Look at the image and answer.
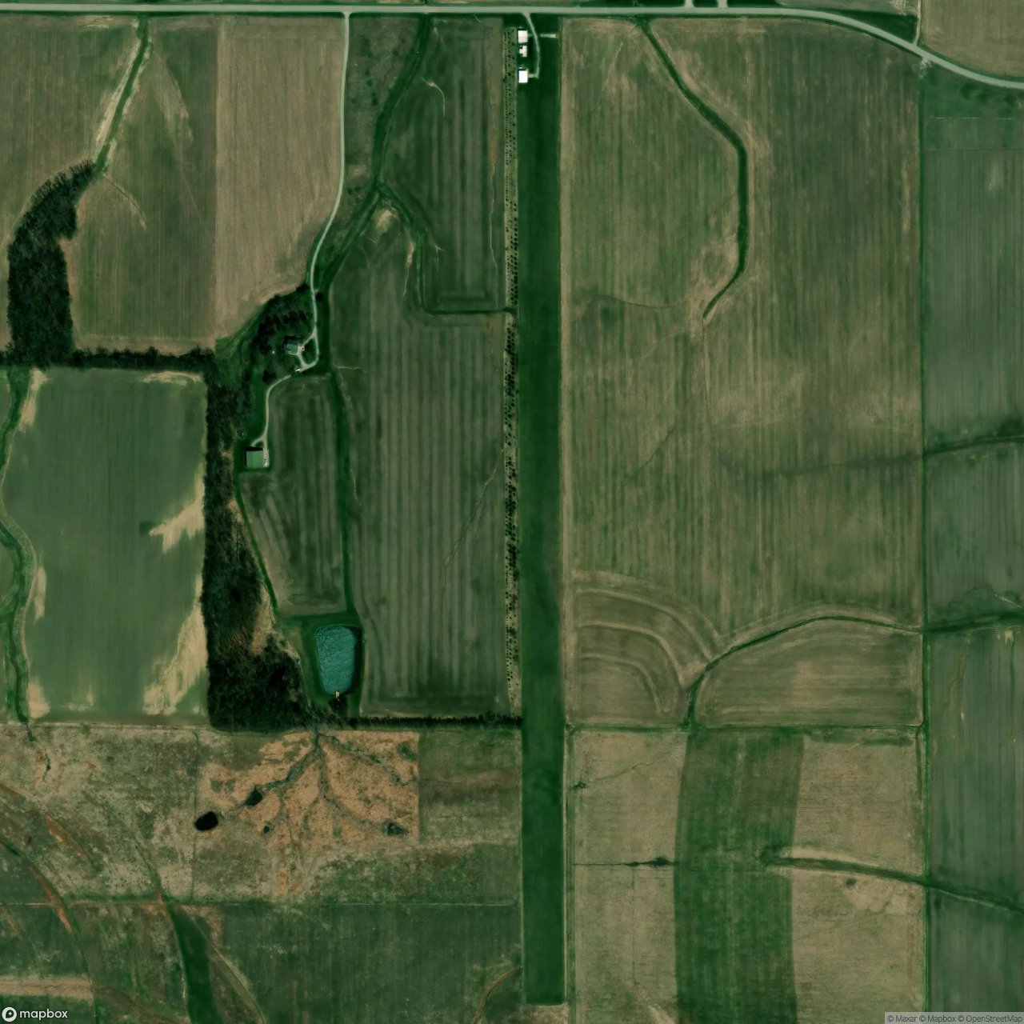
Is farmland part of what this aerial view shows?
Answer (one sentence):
Yes, the picture does contain farmland.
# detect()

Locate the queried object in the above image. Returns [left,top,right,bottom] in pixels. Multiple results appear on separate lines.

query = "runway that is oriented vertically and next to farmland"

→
[517,17,565,1004]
